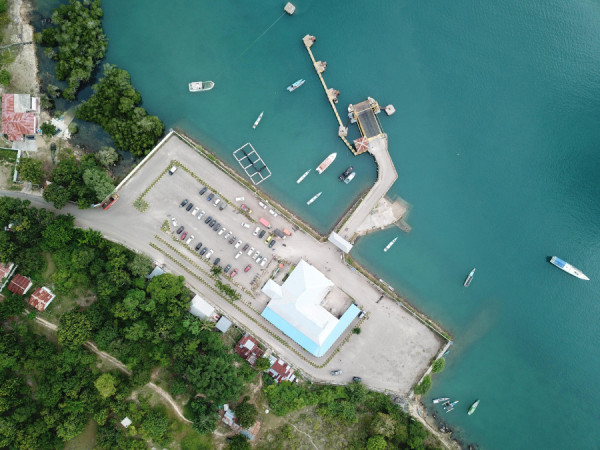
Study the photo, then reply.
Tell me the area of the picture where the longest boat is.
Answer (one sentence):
The longest boat is located in the right region of the scene.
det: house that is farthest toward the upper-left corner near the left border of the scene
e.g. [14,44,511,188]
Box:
[0,92,41,142]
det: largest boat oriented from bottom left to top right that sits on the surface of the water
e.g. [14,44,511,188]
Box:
[316,152,337,173]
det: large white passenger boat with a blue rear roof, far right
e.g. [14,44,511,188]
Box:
[549,256,591,280]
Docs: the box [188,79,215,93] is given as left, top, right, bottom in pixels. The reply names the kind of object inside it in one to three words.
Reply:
boat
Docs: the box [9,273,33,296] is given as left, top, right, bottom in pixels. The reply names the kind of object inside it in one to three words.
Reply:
house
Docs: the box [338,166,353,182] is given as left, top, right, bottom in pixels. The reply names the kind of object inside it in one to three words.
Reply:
boat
